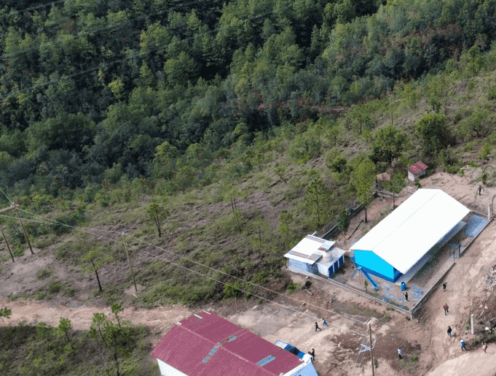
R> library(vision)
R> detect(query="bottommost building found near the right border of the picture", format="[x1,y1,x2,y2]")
[345,189,474,293]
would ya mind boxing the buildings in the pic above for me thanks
[345,189,474,293]
[151,311,321,376]
[407,162,428,181]
[287,228,336,271]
